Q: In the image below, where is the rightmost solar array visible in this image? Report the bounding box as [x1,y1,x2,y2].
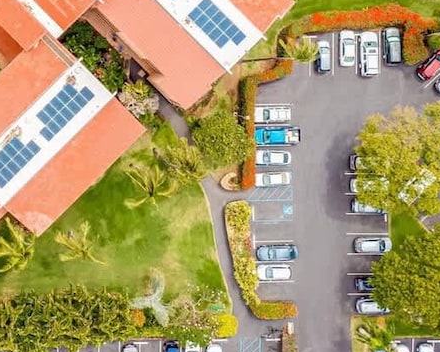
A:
[182,0,246,47]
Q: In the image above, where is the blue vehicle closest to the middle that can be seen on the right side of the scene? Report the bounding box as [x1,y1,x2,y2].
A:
[258,128,302,145]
